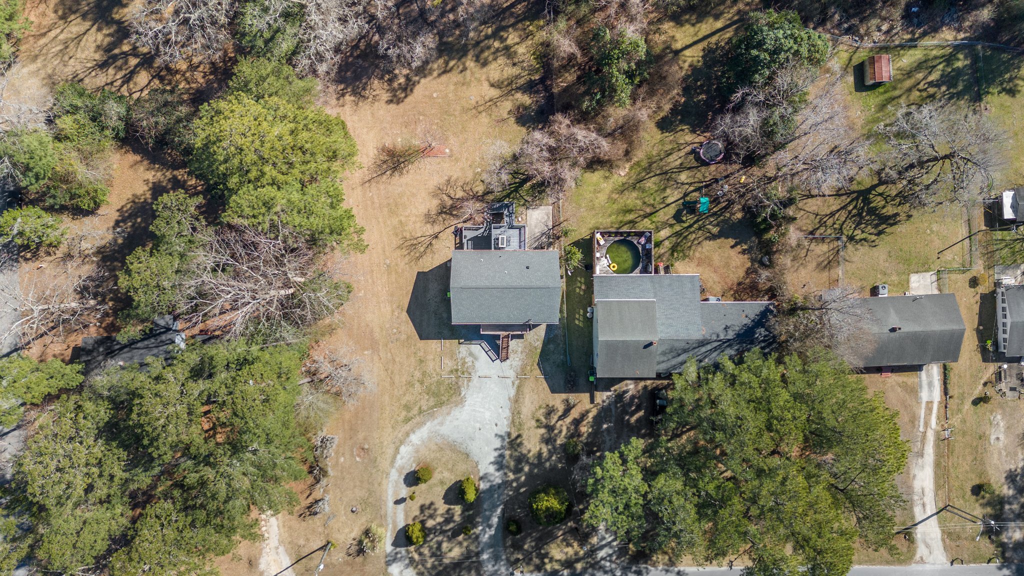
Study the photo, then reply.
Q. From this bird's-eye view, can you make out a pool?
Yes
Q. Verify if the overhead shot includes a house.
Yes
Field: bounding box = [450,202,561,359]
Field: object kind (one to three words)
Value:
house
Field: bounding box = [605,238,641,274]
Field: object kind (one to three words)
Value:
swimming pool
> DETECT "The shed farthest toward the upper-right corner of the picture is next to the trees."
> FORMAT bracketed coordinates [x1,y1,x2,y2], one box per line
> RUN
[859,54,890,86]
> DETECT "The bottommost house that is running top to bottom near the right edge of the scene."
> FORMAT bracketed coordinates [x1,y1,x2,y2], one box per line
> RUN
[992,284,1024,356]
